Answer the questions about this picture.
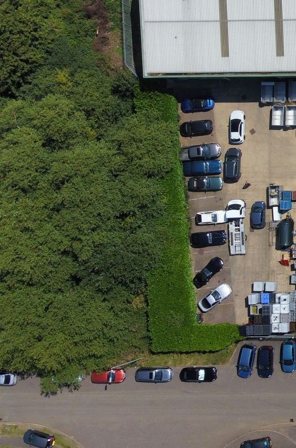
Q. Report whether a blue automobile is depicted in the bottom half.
Yes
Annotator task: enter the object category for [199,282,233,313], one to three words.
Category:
car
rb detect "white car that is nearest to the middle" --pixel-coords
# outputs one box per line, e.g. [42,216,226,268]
[194,210,229,226]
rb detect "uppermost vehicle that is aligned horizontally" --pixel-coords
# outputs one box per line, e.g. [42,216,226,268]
[181,96,215,113]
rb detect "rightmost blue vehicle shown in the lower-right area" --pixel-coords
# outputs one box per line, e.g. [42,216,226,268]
[279,338,296,374]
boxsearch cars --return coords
[92,367,128,385]
[23,427,57,448]
[235,342,258,379]
[199,282,233,313]
[182,143,223,160]
[249,200,266,230]
[184,160,223,176]
[240,433,274,448]
[187,176,224,192]
[224,147,243,183]
[256,345,275,378]
[0,371,21,388]
[181,96,215,113]
[279,338,296,374]
[134,366,175,384]
[195,255,226,289]
[194,210,229,226]
[49,372,82,391]
[181,120,214,136]
[228,111,246,145]
[192,231,227,248]
[179,366,219,383]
